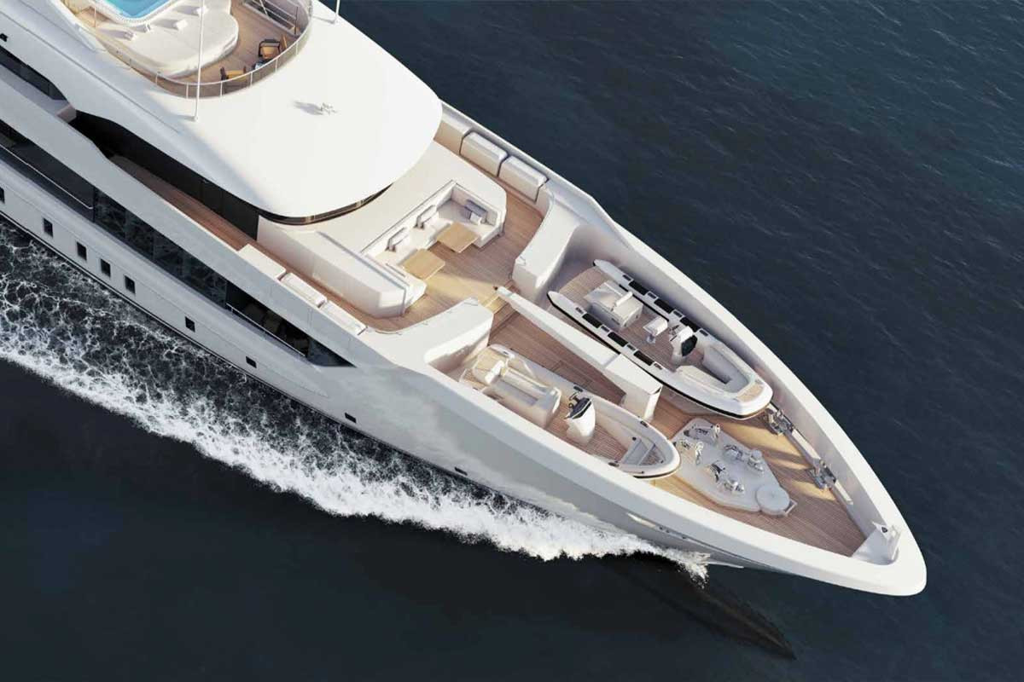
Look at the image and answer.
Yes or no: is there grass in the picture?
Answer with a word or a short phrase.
No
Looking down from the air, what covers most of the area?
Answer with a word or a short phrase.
water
